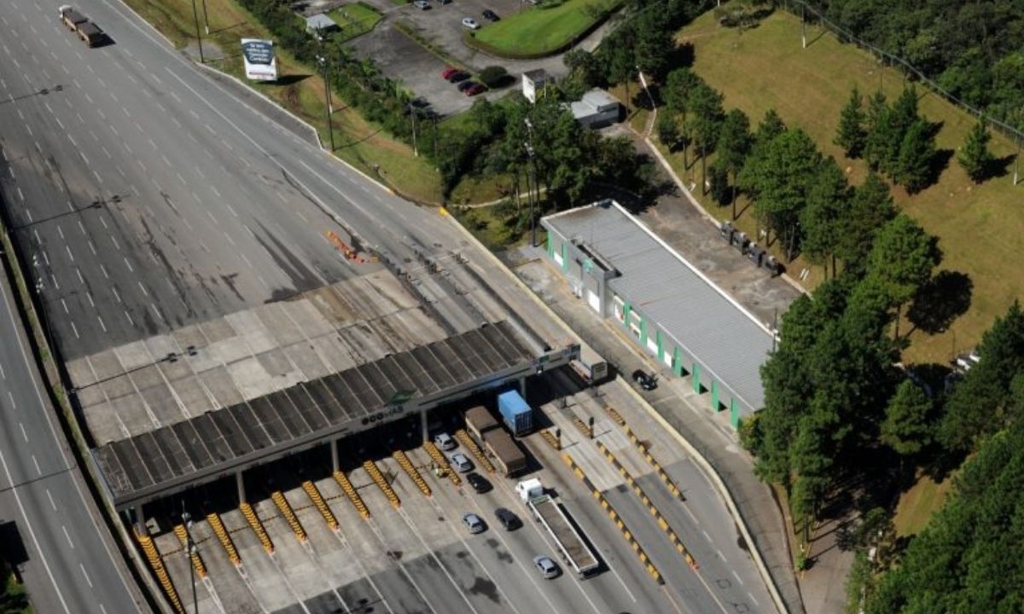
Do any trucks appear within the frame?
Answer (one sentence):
Yes, a truck is visible in the scene.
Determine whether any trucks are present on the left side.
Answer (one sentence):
Yes, a truck is visible on the left side.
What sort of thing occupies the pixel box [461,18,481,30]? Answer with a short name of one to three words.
vehicle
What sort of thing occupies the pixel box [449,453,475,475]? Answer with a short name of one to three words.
car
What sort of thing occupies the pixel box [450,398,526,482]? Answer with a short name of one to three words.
truck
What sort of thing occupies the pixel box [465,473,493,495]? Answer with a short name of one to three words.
car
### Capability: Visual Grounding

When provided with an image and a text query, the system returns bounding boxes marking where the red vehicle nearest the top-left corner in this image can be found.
[442,69,465,81]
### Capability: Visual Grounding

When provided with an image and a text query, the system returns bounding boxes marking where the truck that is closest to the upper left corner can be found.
[61,7,104,53]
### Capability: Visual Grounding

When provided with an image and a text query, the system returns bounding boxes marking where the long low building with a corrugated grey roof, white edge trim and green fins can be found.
[541,195,784,426]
